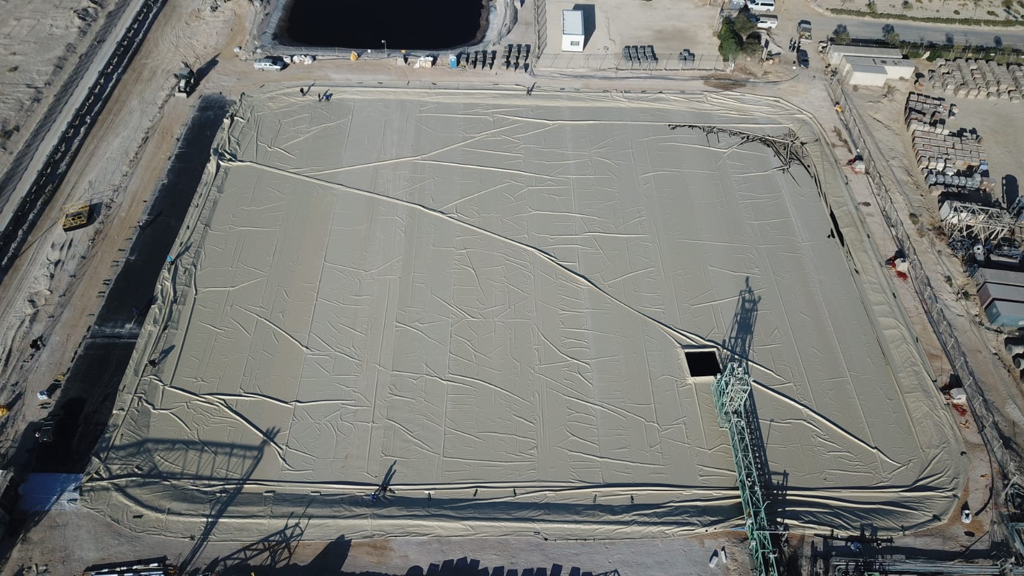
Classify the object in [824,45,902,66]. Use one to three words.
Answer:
building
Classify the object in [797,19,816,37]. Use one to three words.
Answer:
vehicle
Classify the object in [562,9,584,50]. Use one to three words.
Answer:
building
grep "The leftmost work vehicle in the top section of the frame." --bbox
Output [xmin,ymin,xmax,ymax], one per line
[168,60,193,96]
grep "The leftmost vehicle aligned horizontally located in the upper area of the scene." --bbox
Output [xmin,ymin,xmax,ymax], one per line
[251,55,285,70]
